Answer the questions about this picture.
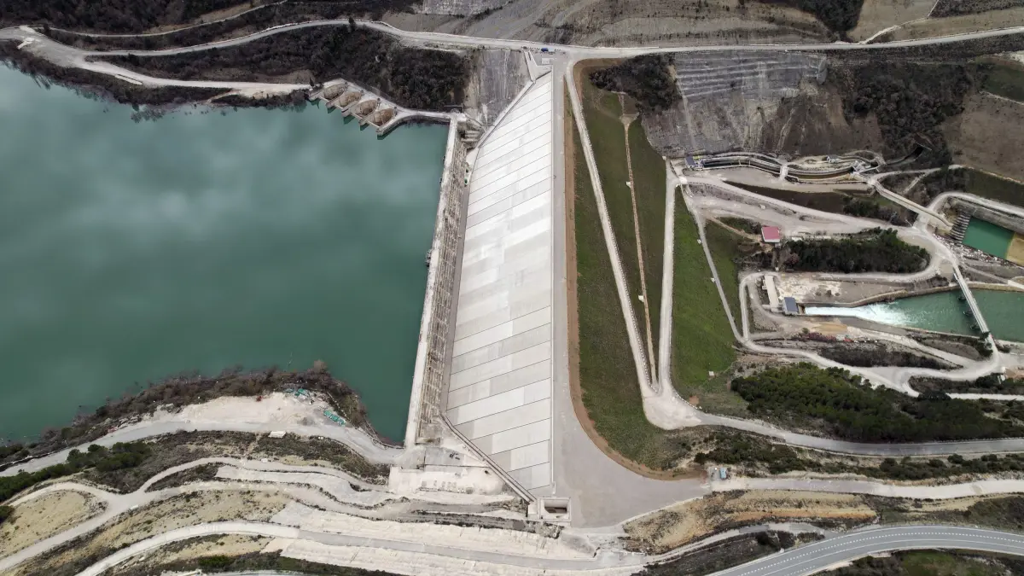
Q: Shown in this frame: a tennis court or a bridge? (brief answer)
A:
bridge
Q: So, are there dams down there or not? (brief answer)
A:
Yes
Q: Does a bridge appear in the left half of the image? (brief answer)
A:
No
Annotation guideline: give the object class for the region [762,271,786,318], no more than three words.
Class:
building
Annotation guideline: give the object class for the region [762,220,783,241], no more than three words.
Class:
house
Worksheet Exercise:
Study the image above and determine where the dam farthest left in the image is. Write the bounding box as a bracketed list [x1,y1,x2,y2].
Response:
[406,119,464,445]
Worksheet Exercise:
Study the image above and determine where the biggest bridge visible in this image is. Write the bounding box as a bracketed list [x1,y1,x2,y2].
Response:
[947,263,997,347]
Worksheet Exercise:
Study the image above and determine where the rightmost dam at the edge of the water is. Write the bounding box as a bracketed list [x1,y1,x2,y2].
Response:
[439,52,761,526]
